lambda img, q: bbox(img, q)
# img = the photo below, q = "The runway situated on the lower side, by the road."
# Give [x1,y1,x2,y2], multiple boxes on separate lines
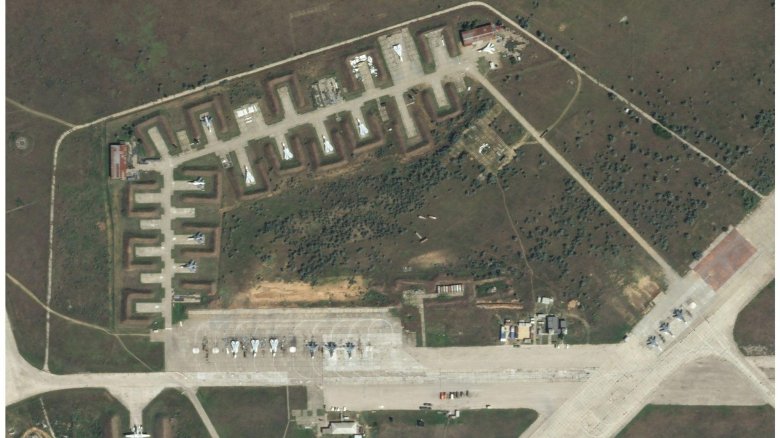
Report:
[521,186,780,438]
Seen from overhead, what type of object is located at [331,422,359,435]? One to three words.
building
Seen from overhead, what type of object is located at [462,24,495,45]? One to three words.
hangar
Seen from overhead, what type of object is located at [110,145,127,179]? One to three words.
hangar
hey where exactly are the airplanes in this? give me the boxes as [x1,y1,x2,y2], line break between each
[247,168,255,184]
[360,120,369,137]
[284,144,292,161]
[190,178,206,190]
[232,340,239,356]
[324,136,334,153]
[325,340,337,356]
[306,340,318,356]
[251,340,259,357]
[270,340,278,357]
[181,261,197,273]
[394,43,402,59]
[344,340,356,357]
[647,335,660,350]
[673,308,686,322]
[660,321,673,337]
[190,233,206,245]
[478,43,496,51]
[124,428,150,438]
